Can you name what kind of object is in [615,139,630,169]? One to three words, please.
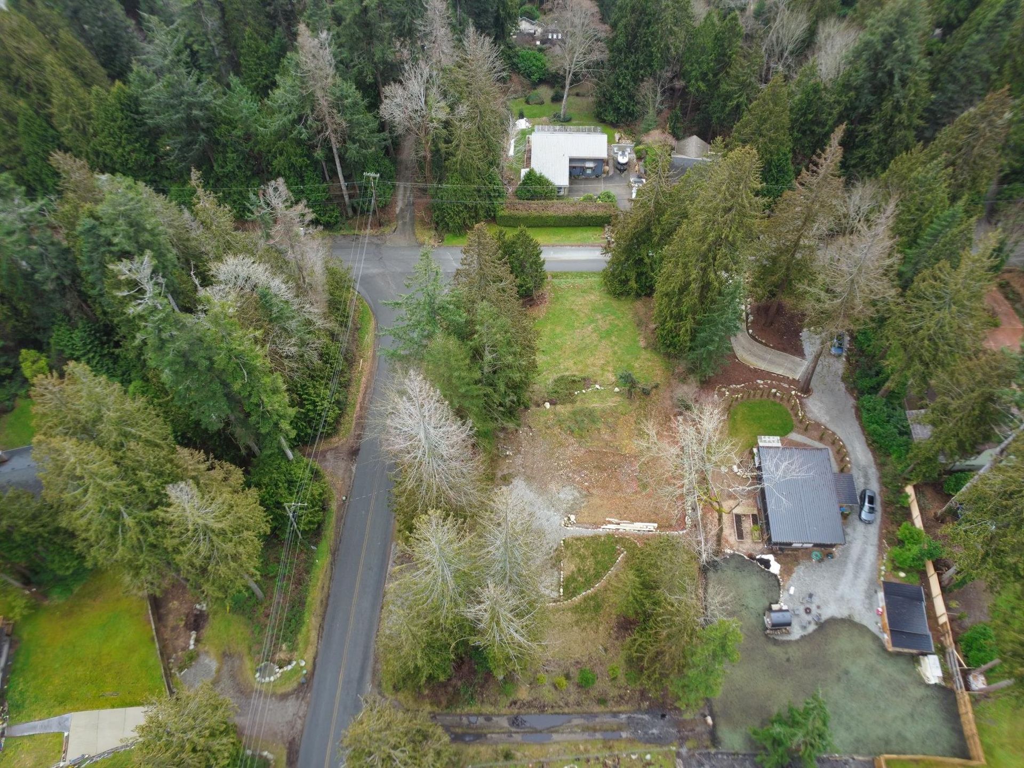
boat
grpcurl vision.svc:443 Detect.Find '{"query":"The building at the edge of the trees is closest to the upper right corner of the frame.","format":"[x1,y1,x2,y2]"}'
[676,135,710,161]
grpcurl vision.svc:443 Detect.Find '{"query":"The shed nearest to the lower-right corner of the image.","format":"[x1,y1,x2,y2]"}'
[875,581,936,655]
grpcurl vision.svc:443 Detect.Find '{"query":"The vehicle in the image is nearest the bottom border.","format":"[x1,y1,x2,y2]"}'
[857,489,879,526]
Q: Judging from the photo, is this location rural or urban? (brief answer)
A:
rural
